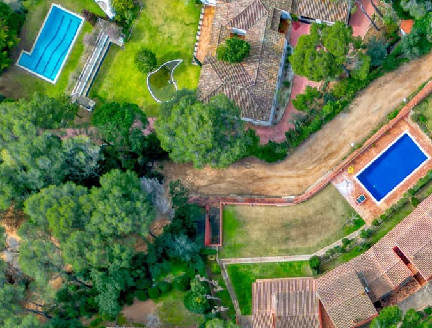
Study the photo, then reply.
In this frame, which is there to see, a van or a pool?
pool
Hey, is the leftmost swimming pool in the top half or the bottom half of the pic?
top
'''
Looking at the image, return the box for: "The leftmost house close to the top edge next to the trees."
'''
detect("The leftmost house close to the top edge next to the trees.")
[194,0,352,127]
